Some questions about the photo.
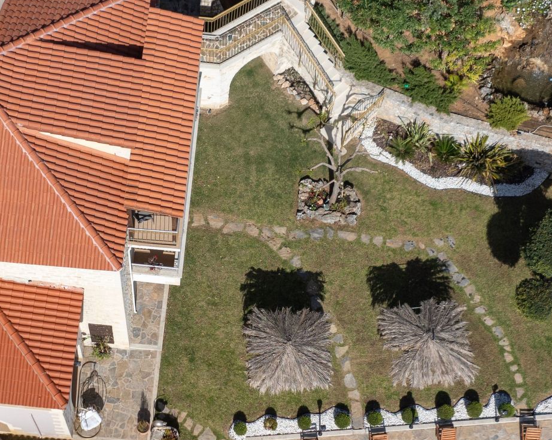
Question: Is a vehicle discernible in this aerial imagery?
No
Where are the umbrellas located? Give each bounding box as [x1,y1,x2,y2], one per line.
[235,301,340,398]
[369,293,478,398]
